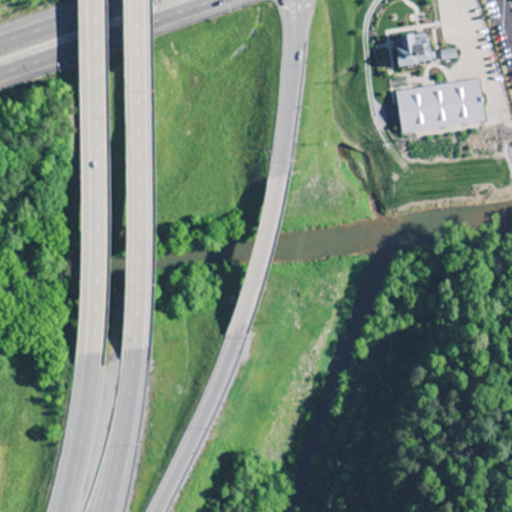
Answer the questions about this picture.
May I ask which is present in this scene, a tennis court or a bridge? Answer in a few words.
bridge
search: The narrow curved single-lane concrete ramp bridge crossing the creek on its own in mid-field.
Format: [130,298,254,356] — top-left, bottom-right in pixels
[226,176,290,340]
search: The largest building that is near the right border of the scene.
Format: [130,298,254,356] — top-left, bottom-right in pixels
[396,79,486,134]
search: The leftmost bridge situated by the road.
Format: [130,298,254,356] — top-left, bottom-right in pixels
[76,0,111,353]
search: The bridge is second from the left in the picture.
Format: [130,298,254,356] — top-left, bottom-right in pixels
[121,0,156,354]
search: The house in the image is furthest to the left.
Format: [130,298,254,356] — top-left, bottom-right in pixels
[397,32,436,68]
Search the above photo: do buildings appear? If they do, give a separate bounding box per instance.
[440,47,458,61]
[397,32,436,68]
[396,79,486,134]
